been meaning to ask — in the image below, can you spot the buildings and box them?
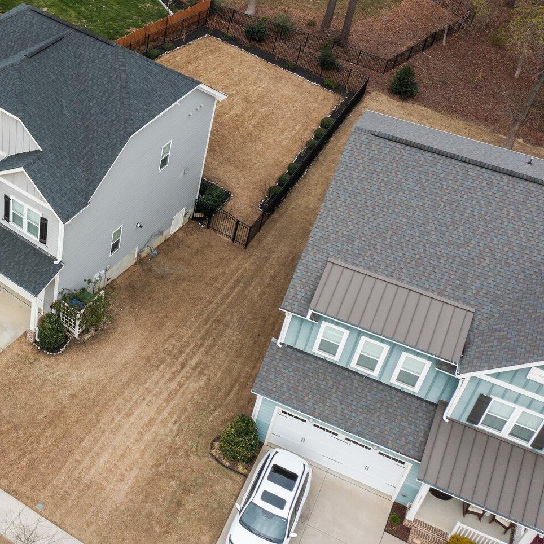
[0,0,227,353]
[247,111,544,544]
